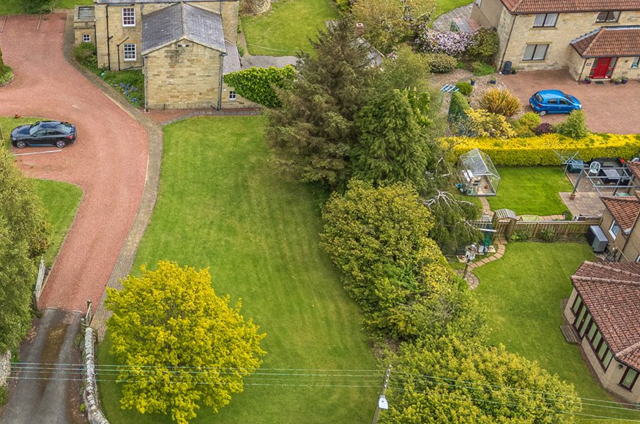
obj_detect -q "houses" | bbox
[464,0,640,84]
[71,0,266,111]
[556,156,640,403]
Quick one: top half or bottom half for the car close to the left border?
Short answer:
top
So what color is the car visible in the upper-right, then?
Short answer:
blue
